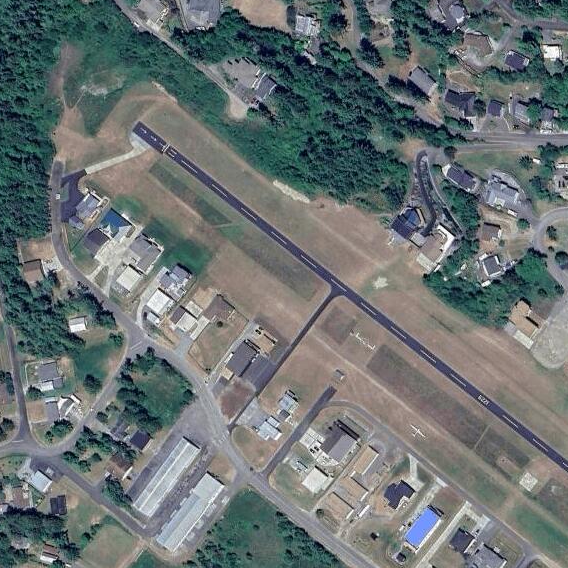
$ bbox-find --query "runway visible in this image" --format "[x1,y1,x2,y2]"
[131,119,568,476]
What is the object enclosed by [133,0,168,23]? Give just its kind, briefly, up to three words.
house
